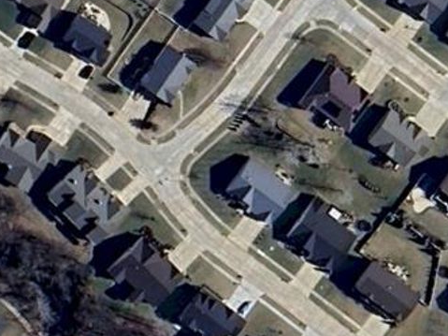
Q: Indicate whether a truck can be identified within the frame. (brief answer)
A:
No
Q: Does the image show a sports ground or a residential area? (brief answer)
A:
residential area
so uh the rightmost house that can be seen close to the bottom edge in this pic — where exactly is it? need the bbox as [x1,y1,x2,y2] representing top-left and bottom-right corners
[356,260,422,323]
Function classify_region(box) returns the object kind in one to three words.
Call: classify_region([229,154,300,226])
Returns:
house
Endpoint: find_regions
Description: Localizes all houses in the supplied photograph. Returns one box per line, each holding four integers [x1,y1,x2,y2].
[139,42,198,105]
[14,0,62,31]
[394,0,447,23]
[105,233,178,302]
[180,287,247,336]
[0,125,52,194]
[229,154,300,226]
[369,105,436,169]
[302,65,374,132]
[193,0,254,43]
[356,260,422,323]
[287,200,358,272]
[48,162,123,239]
[60,11,117,69]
